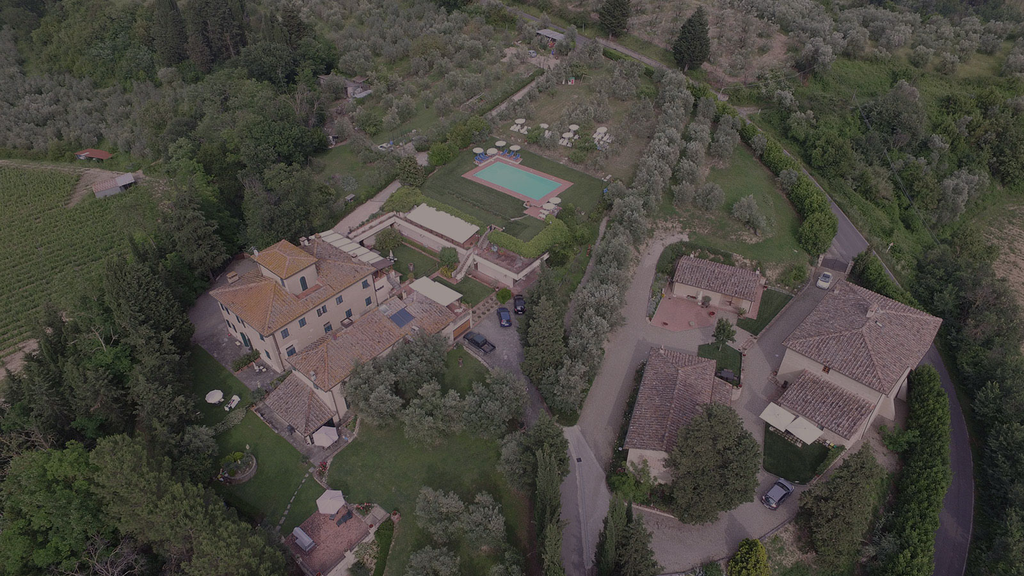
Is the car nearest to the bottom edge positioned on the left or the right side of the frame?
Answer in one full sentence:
The car nearest to the bottom edge is on the right side of the image.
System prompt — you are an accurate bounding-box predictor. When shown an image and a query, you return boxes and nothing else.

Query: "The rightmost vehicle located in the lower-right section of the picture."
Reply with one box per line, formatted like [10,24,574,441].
[760,476,798,508]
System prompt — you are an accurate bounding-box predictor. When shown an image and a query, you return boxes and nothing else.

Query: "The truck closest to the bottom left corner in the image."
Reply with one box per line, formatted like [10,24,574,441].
[461,328,498,352]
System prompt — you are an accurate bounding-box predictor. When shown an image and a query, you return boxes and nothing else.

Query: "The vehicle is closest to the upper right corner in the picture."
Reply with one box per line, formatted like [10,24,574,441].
[817,266,835,287]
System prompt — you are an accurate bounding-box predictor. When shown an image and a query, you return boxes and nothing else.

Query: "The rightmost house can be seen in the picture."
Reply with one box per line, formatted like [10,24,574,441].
[777,278,942,453]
